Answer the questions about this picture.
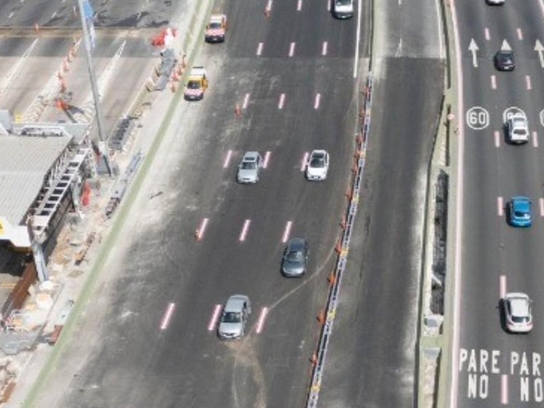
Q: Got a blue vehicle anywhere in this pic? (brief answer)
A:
Yes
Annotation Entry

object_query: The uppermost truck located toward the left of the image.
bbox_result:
[205,7,228,39]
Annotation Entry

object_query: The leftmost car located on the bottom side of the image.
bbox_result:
[219,287,253,335]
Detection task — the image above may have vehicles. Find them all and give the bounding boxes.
[237,144,265,179]
[506,113,530,140]
[332,0,355,15]
[306,141,333,177]
[494,49,515,70]
[504,286,536,329]
[219,287,253,335]
[506,193,534,223]
[282,235,312,275]
[205,7,228,39]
